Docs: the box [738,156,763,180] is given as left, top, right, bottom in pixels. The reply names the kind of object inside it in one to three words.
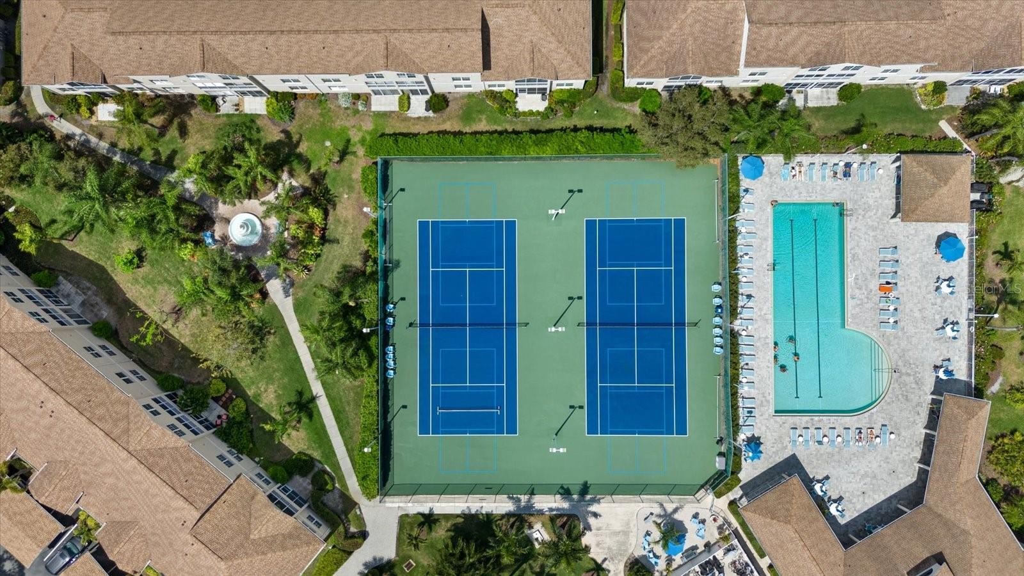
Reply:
umbrella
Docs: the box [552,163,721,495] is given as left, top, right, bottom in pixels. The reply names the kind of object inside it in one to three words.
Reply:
tennis court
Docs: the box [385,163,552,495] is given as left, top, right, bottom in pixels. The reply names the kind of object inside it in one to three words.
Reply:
tennis court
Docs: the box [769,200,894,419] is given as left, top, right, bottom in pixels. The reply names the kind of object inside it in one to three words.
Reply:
swimming pool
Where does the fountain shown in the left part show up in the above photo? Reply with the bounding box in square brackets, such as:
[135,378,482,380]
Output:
[228,212,265,248]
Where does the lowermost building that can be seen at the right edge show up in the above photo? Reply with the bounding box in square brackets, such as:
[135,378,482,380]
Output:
[742,394,1024,576]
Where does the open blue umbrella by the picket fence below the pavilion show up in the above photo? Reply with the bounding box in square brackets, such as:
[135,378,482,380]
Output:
[937,237,961,261]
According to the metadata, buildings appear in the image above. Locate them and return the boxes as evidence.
[742,394,1024,576]
[887,154,971,224]
[622,0,1024,92]
[21,0,592,98]
[0,256,330,576]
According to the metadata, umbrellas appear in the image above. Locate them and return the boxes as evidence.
[738,156,763,180]
[664,530,689,555]
[741,436,763,463]
[937,237,961,261]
